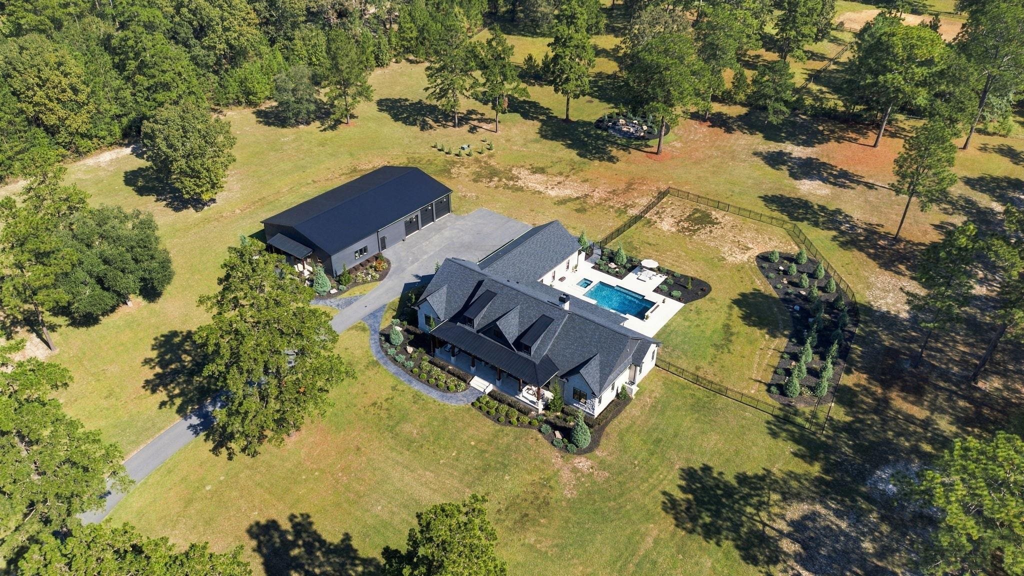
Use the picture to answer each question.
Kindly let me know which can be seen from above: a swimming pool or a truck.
swimming pool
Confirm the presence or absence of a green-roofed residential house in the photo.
No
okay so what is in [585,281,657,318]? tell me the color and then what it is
blue swimming pool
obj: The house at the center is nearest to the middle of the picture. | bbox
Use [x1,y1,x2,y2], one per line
[410,220,663,416]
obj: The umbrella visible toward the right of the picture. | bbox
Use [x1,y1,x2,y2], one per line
[641,259,659,279]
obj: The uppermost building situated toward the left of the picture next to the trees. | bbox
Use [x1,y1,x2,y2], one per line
[261,166,453,277]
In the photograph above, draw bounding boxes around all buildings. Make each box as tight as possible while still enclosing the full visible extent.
[261,166,453,277]
[410,220,663,416]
